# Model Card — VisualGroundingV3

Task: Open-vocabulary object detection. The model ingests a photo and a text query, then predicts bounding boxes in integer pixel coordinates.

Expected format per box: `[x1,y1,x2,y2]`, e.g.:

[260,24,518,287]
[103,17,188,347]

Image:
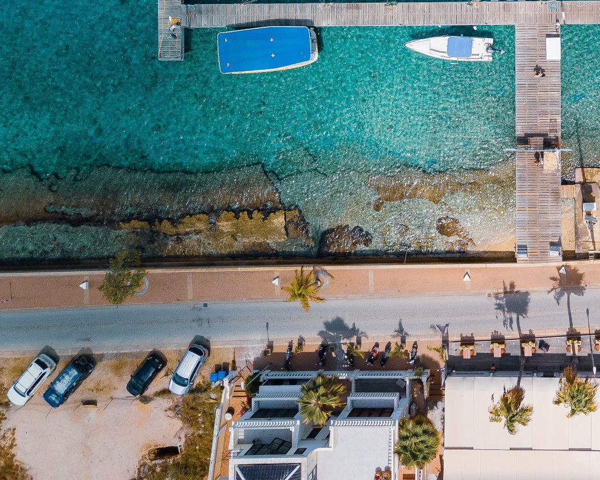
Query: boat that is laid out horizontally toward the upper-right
[404,34,504,64]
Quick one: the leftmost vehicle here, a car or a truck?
car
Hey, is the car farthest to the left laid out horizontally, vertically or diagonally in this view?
diagonally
